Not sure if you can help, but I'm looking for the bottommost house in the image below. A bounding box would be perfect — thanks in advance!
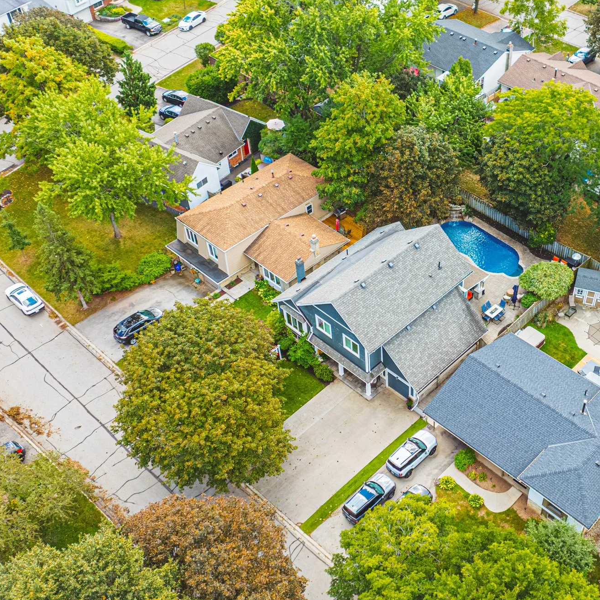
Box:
[422,332,600,538]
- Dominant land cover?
trees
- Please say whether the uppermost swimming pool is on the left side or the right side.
right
